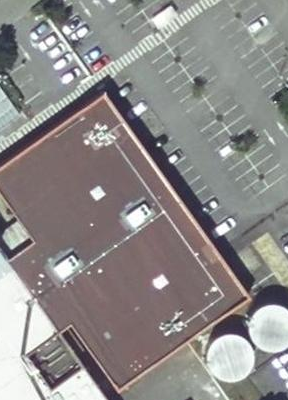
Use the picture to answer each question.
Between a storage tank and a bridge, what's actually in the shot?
storage tank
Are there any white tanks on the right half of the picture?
Yes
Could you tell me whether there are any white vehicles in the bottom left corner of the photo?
No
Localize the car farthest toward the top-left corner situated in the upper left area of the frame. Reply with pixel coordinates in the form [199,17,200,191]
[29,24,50,40]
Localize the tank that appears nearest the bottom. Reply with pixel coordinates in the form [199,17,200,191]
[206,334,256,383]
